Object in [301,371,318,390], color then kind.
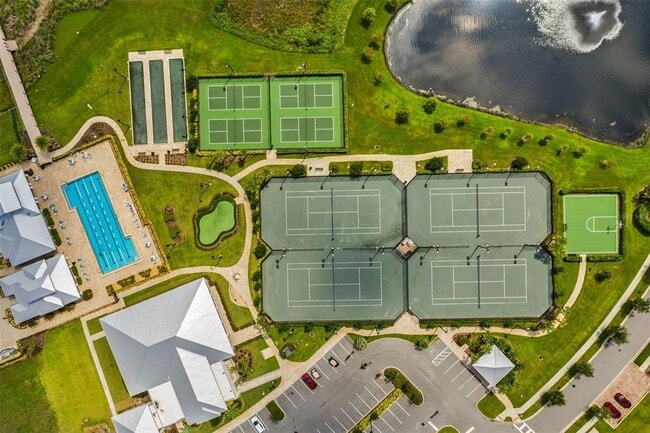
red car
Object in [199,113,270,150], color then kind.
green sports court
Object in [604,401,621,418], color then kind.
red car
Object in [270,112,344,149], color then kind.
green sports court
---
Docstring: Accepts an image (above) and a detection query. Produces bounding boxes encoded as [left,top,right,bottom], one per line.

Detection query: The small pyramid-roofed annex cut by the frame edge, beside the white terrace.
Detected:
[112,403,162,433]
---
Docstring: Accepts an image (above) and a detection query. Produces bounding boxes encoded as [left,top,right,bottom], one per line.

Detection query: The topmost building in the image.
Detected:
[0,170,60,267]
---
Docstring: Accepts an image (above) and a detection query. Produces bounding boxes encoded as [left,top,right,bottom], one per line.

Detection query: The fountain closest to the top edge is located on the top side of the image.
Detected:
[514,0,625,62]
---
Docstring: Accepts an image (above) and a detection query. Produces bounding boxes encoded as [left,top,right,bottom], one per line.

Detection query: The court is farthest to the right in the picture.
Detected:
[564,194,619,253]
